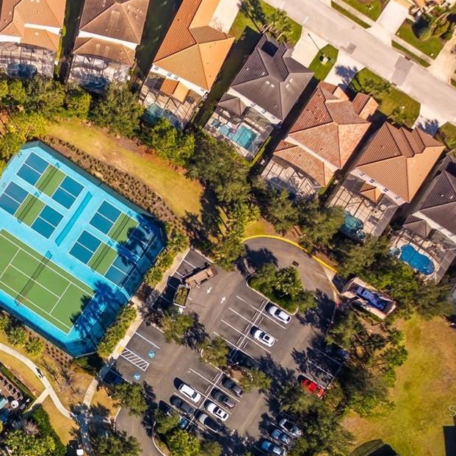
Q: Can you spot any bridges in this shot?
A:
No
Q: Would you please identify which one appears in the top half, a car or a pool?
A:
pool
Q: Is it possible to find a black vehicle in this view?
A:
Yes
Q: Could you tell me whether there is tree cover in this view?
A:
Yes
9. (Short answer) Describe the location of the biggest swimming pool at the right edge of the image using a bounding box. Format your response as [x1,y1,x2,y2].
[402,245,435,276]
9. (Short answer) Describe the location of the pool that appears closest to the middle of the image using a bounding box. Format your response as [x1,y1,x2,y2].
[279,183,304,203]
